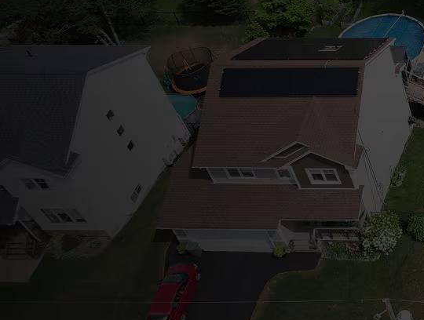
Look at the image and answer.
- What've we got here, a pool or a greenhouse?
pool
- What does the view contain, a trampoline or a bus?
trampoline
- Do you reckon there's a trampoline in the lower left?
No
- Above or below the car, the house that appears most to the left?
above it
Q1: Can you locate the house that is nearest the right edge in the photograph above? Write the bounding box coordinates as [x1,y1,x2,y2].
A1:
[159,37,412,259]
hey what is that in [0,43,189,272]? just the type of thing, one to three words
house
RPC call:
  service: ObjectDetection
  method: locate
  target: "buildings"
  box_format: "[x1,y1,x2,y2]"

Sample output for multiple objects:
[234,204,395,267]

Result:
[159,37,412,259]
[0,43,189,272]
